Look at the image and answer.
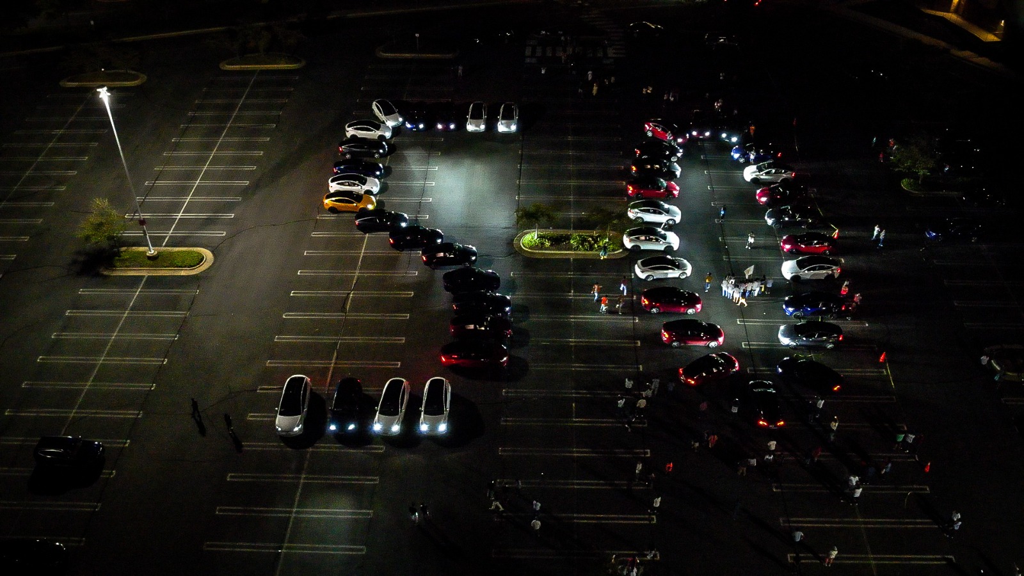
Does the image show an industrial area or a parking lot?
parking lot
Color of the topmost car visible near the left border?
black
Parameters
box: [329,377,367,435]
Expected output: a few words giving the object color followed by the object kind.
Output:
black car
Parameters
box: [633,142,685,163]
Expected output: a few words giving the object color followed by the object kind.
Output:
black car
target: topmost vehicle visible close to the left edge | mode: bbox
[25,431,111,473]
